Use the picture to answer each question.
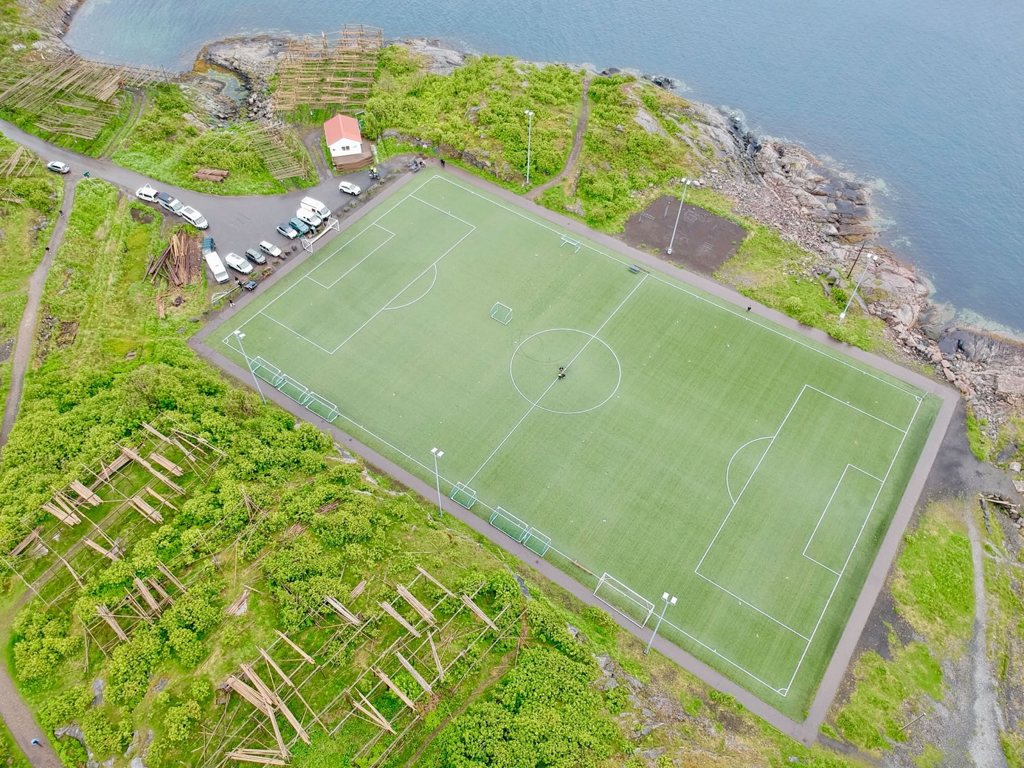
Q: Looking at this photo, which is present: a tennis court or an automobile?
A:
automobile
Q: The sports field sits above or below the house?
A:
below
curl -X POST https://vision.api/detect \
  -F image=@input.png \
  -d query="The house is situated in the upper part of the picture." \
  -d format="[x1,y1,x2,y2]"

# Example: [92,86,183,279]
[325,113,376,170]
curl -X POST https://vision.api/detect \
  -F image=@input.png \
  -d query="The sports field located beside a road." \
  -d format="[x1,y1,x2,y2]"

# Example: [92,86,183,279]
[204,165,945,725]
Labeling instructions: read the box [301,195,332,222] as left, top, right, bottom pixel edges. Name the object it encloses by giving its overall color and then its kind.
white camper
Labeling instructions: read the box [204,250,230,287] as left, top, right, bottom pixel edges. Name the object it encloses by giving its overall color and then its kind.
white camper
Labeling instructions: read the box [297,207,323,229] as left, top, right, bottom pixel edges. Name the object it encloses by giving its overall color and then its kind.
white vehicle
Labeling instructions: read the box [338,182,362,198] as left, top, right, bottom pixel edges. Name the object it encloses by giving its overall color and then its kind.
white car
